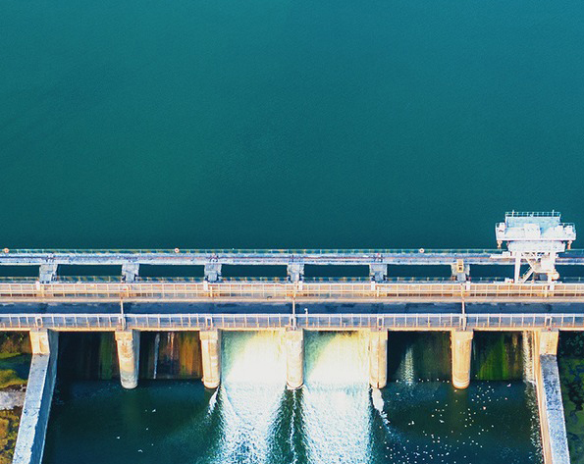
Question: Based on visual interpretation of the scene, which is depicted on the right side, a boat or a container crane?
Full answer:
There is a container crane on the right side.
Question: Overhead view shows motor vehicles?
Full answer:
No, no motor vehicle is visible in the scene.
